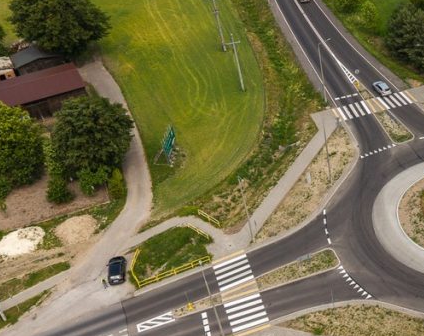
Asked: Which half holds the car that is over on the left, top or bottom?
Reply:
bottom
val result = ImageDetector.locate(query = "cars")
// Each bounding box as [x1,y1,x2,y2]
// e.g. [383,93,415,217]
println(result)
[103,250,125,282]
[371,77,391,95]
